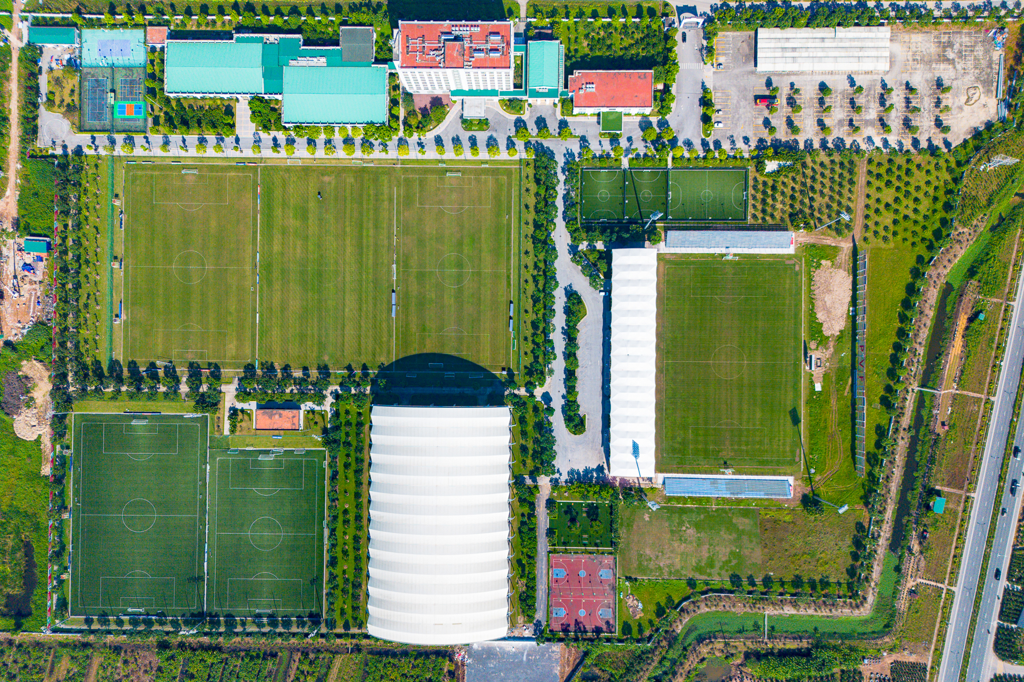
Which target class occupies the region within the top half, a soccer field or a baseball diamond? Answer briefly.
soccer field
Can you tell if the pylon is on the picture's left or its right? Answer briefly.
right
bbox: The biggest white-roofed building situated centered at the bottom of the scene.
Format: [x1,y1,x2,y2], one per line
[360,404,517,644]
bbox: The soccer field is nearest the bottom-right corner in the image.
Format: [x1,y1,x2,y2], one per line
[657,256,802,469]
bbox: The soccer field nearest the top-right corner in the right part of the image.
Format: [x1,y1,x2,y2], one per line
[670,169,746,219]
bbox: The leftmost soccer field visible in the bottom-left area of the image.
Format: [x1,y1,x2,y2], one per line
[71,413,207,617]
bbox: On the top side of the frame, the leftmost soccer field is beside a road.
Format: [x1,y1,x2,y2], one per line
[121,163,258,370]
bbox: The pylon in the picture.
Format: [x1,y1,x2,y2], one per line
[984,151,1015,172]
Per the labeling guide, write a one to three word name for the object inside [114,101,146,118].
sports court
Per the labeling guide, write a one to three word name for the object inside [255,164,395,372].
soccer field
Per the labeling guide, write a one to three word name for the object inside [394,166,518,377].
soccer field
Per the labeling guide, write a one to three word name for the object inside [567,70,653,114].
building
